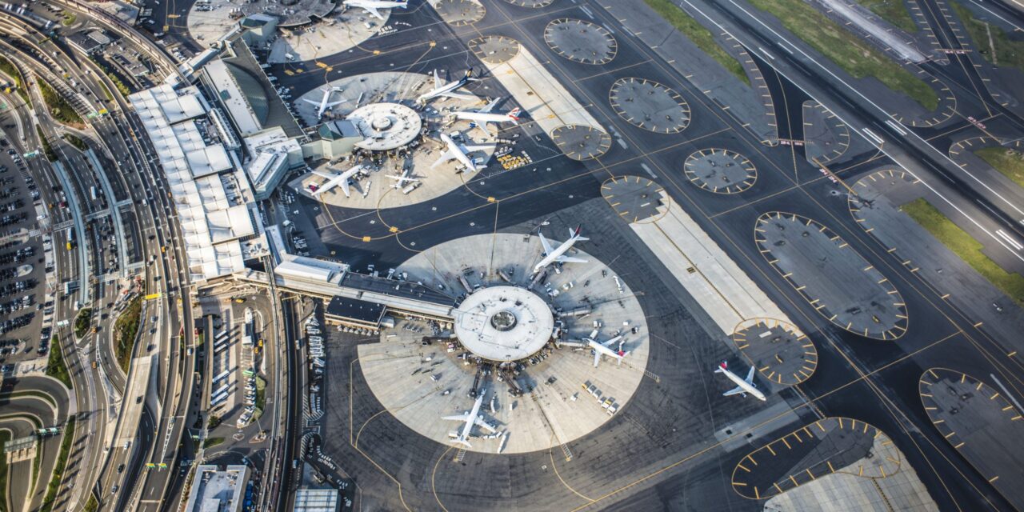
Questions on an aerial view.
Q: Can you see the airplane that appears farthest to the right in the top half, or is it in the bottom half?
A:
bottom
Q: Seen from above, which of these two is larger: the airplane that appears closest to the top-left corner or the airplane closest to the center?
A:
the airplane closest to the center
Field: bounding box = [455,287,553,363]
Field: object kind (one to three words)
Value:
building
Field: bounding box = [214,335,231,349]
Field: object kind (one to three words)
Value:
vehicle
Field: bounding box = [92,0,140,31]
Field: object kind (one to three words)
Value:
shed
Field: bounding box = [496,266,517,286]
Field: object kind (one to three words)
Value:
jet bridge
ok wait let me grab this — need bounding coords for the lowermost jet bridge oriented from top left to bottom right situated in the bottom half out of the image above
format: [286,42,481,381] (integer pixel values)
[501,368,522,395]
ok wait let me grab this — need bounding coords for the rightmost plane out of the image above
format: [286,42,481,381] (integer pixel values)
[712,358,766,401]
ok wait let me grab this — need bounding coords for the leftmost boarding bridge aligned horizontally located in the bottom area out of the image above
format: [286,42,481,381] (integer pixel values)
[423,331,457,346]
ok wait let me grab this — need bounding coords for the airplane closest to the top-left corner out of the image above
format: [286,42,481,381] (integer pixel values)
[304,86,345,119]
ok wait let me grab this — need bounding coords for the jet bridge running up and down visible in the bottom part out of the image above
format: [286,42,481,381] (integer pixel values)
[470,368,482,397]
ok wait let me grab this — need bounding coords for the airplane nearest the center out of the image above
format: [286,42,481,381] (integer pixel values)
[534,226,586,271]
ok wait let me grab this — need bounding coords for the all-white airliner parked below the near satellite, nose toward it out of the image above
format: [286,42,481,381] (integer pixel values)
[442,390,497,447]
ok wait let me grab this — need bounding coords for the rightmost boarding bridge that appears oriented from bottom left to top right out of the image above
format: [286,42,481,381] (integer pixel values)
[526,266,545,292]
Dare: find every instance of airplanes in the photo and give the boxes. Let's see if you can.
[434,135,492,174]
[304,86,345,119]
[385,168,418,188]
[712,358,766,401]
[442,390,497,447]
[339,0,407,16]
[587,336,630,368]
[534,226,586,271]
[306,166,363,198]
[417,65,475,104]
[452,98,519,138]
